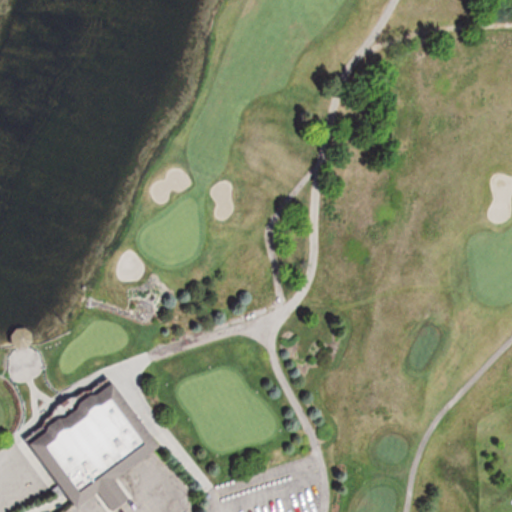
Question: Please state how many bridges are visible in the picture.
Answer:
0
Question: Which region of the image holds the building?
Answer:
bottom left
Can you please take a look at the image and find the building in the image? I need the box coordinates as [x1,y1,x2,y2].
[25,379,162,512]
